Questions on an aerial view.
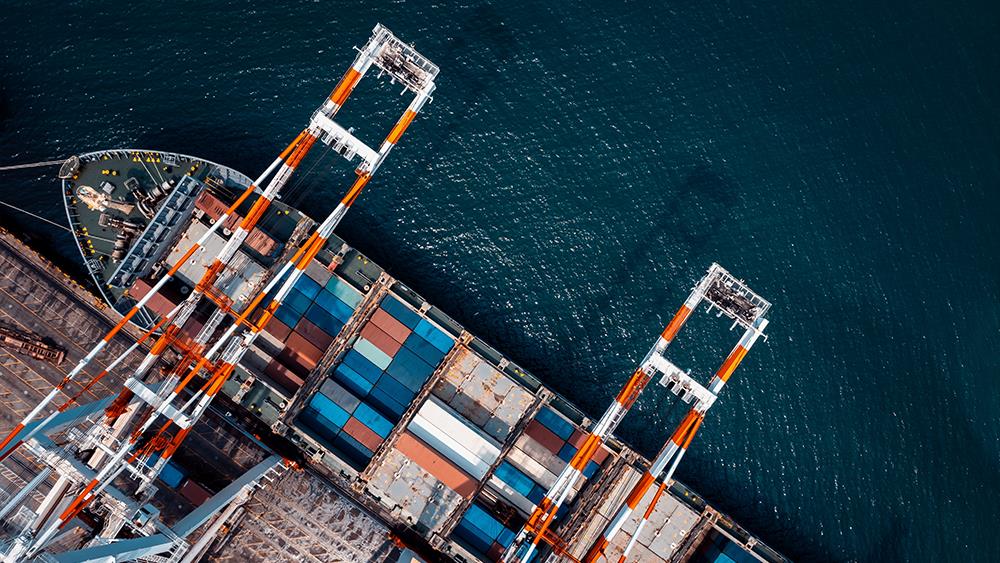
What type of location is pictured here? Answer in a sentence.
The picture captures a port.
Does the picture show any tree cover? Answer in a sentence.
No, there is no tree cover in the image.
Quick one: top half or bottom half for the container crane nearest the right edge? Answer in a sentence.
The bottom half of the photo is where the container crane nearest the right edge is.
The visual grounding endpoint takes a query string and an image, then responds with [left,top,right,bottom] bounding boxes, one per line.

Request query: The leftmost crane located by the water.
[0,24,440,563]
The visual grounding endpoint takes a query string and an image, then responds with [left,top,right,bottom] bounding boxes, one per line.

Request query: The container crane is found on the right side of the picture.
[493,262,773,563]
